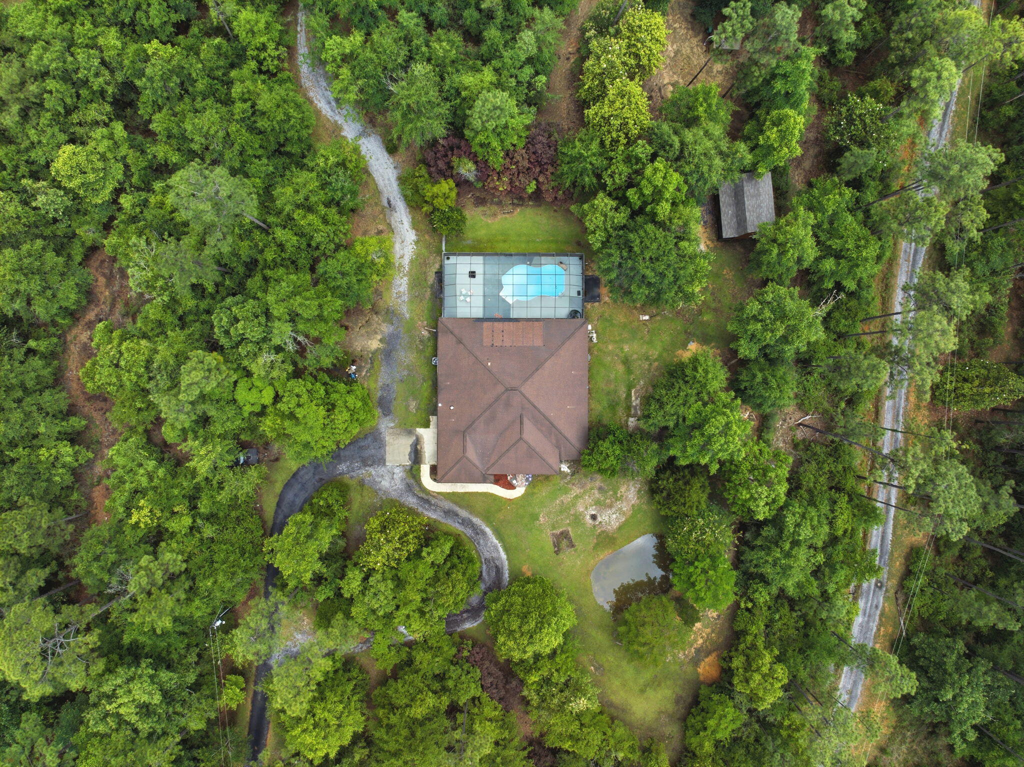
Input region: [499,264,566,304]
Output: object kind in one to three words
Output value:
swimming pool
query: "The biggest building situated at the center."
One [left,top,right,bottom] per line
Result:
[437,318,589,484]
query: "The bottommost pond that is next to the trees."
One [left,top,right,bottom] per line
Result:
[589,532,678,614]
